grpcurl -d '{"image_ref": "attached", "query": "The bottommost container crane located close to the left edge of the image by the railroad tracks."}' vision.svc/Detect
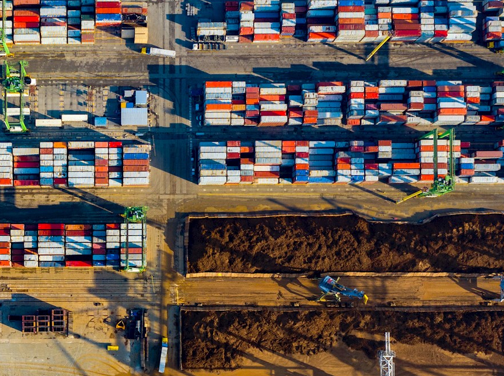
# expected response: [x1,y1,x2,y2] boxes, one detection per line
[1,60,33,128]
